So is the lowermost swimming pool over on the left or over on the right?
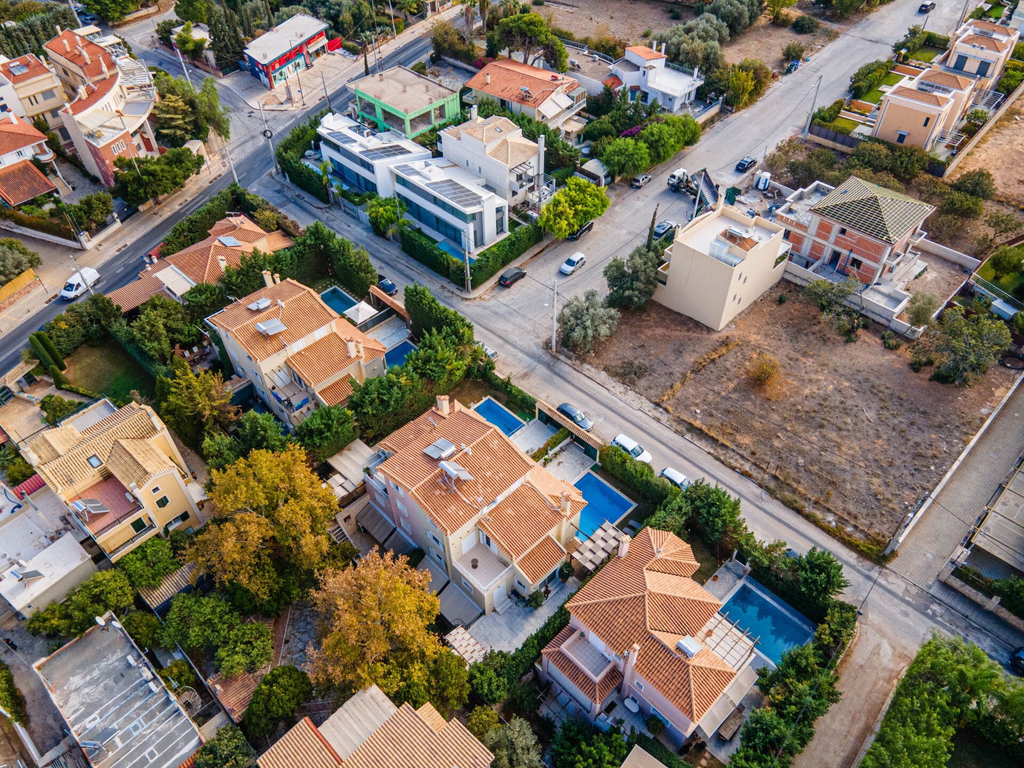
right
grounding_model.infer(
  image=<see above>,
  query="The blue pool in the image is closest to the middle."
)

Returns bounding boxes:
[466,390,533,438]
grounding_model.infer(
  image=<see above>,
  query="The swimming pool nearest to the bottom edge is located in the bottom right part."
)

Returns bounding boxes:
[708,571,818,668]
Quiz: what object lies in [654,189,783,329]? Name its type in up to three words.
house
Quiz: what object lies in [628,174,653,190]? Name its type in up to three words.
car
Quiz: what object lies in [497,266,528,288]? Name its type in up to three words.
car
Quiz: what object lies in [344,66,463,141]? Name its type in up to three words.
building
